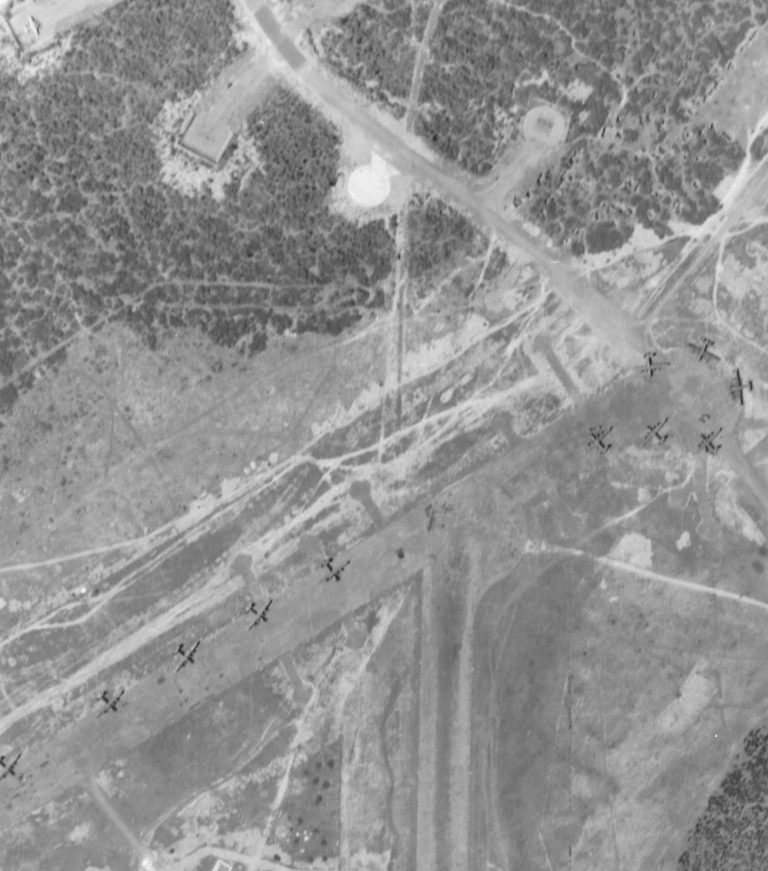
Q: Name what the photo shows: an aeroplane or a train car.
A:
aeroplane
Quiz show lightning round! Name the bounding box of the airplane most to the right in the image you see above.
[731,369,753,406]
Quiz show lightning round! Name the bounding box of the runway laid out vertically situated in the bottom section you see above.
[416,541,481,871]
